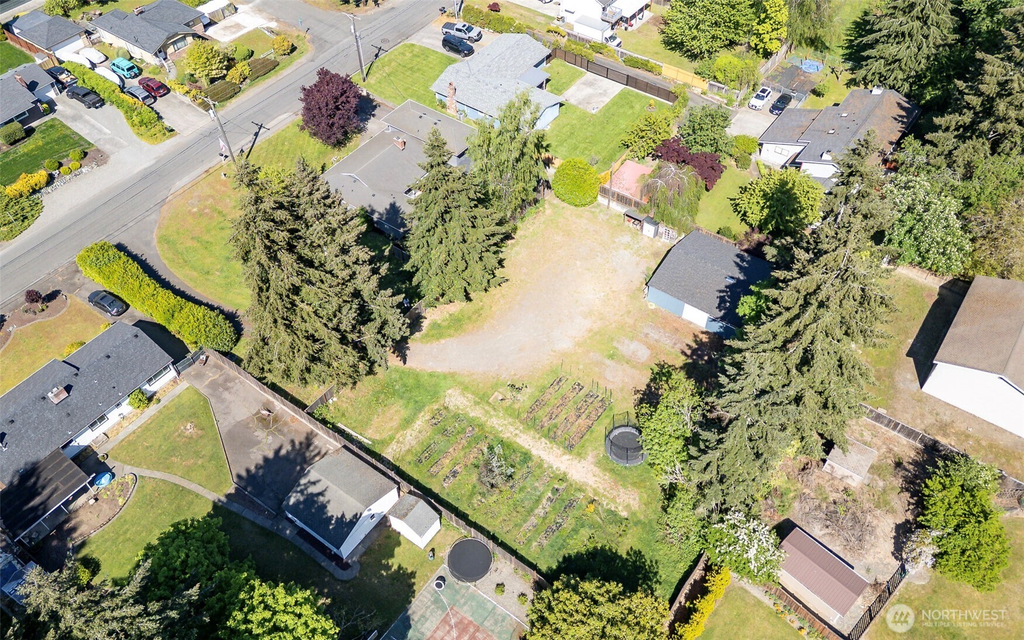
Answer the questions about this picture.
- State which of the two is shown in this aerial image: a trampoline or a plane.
trampoline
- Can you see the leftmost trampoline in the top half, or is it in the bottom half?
bottom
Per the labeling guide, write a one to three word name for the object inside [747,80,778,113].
car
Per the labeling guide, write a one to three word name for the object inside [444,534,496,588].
trampoline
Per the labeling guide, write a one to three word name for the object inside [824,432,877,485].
shed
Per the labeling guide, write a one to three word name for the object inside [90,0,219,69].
house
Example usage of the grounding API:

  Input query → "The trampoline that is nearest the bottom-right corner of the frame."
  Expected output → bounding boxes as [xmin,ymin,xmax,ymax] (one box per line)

[601,414,651,472]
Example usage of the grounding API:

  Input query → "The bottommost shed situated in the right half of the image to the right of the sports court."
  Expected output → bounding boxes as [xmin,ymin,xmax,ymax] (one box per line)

[778,535,868,621]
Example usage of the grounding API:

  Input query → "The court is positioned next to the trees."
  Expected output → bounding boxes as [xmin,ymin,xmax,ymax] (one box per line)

[381,566,534,640]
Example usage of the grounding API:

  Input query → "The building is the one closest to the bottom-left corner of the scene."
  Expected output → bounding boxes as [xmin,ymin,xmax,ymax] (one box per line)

[2,560,61,612]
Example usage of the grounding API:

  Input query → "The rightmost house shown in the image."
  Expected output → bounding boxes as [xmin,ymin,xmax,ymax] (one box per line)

[922,277,1024,432]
